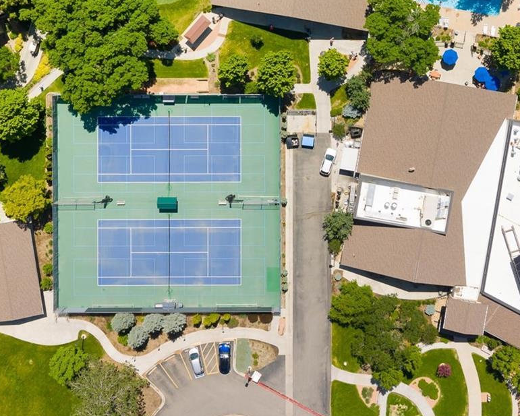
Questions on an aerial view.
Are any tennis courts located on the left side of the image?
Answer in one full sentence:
Yes, the scene does show a tennis court on the left side of the image.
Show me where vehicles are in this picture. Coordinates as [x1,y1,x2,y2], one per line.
[319,147,336,178]
[218,342,232,374]
[28,39,40,54]
[188,346,205,378]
